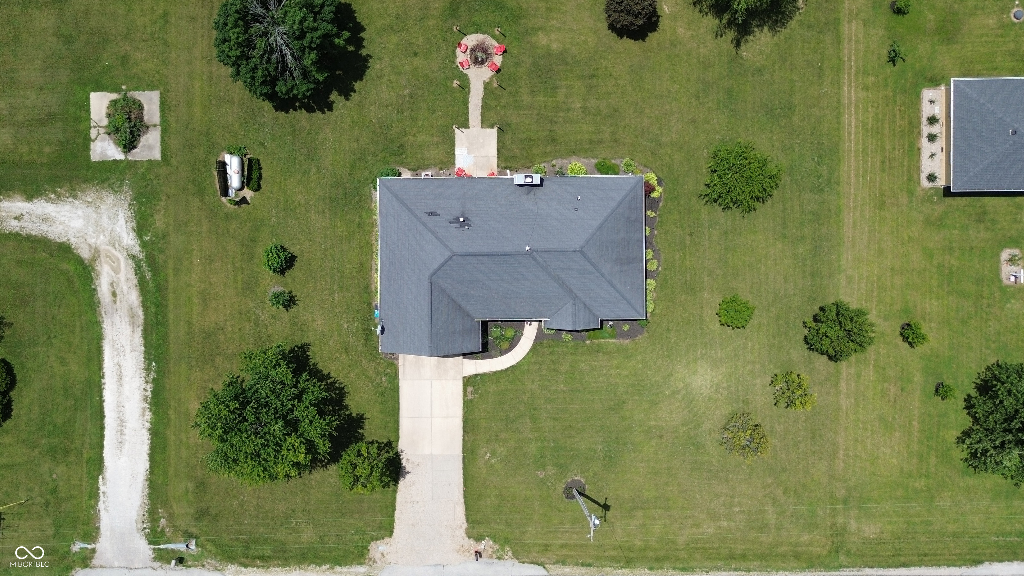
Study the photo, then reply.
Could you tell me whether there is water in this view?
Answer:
No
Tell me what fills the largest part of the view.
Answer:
grass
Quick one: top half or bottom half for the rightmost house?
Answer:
top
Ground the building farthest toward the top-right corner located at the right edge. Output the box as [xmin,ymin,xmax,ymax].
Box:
[938,77,1024,191]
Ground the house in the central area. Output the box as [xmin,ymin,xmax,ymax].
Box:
[379,170,645,357]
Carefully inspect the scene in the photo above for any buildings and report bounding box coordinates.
[938,77,1024,191]
[379,170,645,357]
